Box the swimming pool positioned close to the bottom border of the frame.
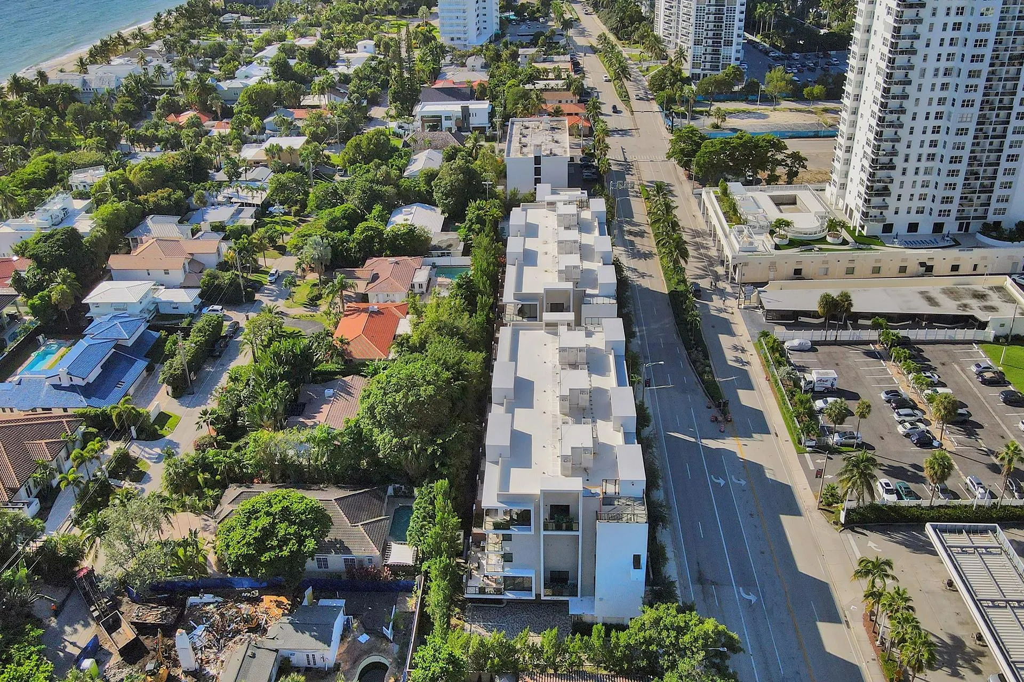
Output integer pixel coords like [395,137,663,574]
[352,653,396,682]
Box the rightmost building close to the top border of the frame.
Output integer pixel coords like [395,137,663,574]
[822,0,1024,236]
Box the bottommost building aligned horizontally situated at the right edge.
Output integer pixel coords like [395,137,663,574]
[756,276,1024,334]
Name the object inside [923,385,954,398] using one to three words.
vehicle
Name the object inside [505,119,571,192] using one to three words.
building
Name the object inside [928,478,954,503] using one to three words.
car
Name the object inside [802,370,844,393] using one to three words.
truck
